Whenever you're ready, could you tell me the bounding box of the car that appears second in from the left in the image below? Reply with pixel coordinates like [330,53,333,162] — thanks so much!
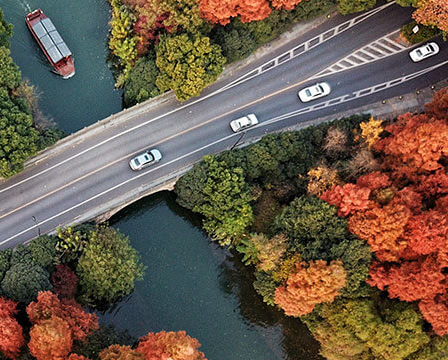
[230,110,260,132]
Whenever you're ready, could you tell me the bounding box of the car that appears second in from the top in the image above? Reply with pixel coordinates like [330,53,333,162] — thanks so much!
[298,80,333,102]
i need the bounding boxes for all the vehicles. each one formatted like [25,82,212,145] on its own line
[298,80,333,102]
[129,147,163,169]
[410,39,443,61]
[230,110,260,132]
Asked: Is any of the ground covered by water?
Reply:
Yes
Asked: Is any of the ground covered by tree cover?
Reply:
Yes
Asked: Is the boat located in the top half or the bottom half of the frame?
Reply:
top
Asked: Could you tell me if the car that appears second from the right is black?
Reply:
No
